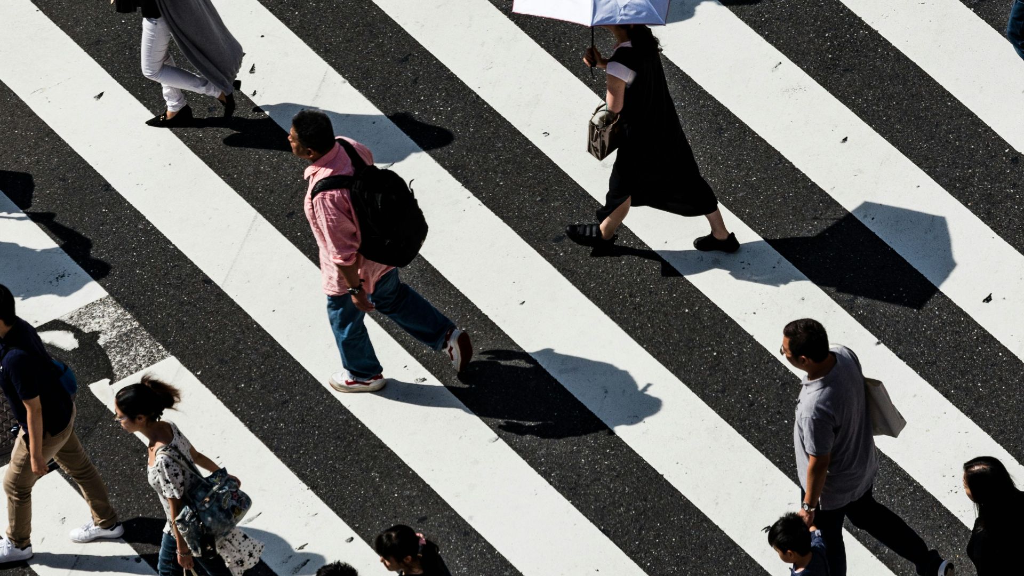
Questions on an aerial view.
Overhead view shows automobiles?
No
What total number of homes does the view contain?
zero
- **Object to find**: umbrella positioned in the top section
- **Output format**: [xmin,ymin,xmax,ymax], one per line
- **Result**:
[510,0,666,82]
